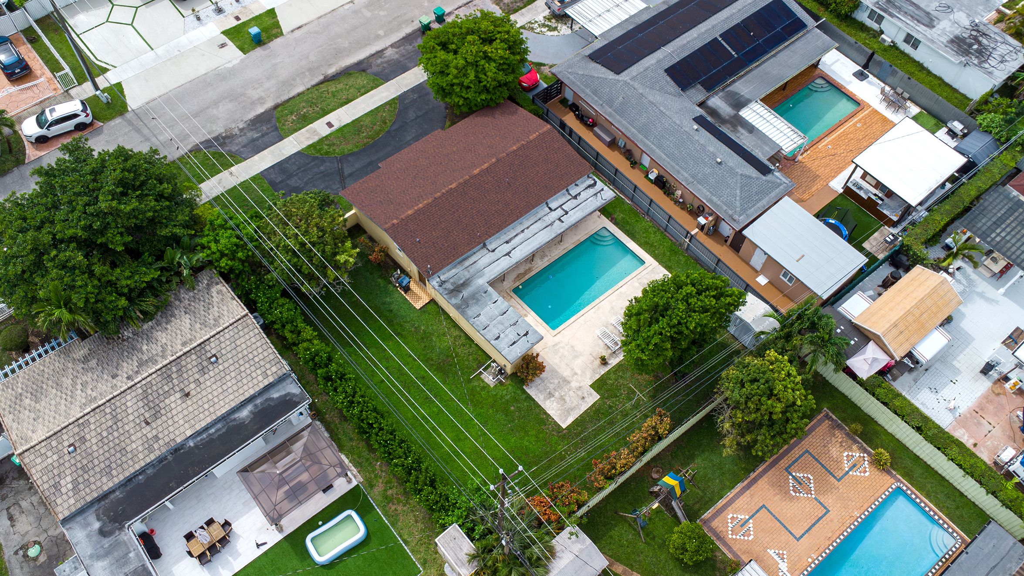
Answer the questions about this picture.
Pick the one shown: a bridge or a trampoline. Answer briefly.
trampoline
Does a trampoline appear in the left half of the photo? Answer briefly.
No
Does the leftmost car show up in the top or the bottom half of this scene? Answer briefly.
top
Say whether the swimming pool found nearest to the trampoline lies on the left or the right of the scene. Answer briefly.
right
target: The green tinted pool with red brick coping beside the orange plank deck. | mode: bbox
[751,72,865,160]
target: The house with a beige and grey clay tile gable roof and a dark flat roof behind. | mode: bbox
[0,264,314,576]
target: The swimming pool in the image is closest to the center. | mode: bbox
[507,221,651,335]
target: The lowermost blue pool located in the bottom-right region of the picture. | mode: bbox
[798,480,966,576]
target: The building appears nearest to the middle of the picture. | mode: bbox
[336,96,617,378]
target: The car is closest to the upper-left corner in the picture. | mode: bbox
[0,35,29,78]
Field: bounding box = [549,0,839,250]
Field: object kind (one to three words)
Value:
house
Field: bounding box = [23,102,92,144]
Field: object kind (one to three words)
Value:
car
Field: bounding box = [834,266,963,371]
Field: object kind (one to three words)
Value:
building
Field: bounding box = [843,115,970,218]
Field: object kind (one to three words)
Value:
building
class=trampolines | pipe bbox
[820,206,863,246]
